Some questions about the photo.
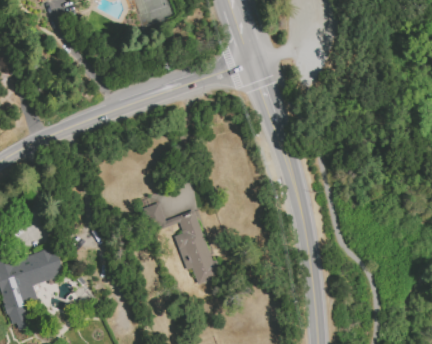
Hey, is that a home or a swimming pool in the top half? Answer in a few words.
swimming pool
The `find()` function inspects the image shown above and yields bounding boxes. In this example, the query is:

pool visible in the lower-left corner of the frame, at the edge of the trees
[48,277,91,312]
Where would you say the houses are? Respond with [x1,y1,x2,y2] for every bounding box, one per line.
[0,252,59,330]
[142,200,213,281]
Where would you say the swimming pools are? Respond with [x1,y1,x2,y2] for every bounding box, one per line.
[48,277,91,312]
[77,0,128,22]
